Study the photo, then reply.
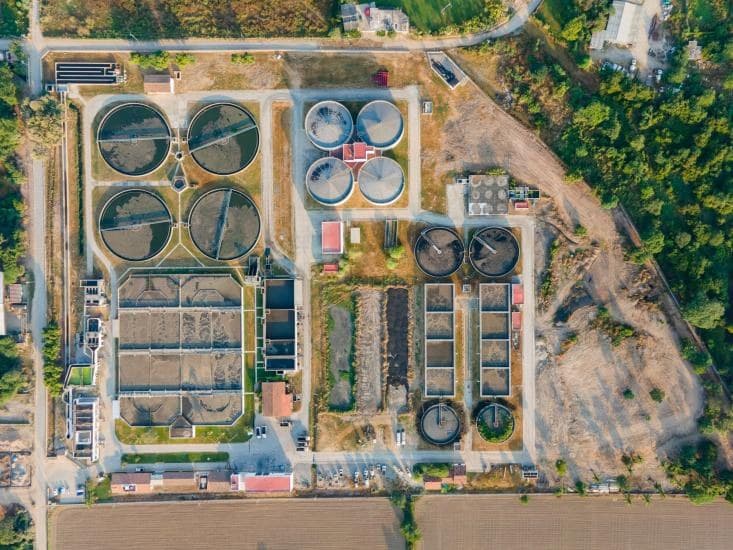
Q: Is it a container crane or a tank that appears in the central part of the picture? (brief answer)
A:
tank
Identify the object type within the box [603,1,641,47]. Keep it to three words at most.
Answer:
building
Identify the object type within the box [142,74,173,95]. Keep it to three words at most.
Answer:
house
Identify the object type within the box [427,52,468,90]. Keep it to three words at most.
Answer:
storage tank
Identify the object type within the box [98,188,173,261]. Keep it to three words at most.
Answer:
storage tank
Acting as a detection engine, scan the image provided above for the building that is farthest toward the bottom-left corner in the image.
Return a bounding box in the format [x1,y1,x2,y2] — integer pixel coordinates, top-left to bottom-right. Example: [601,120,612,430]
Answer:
[0,450,34,487]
